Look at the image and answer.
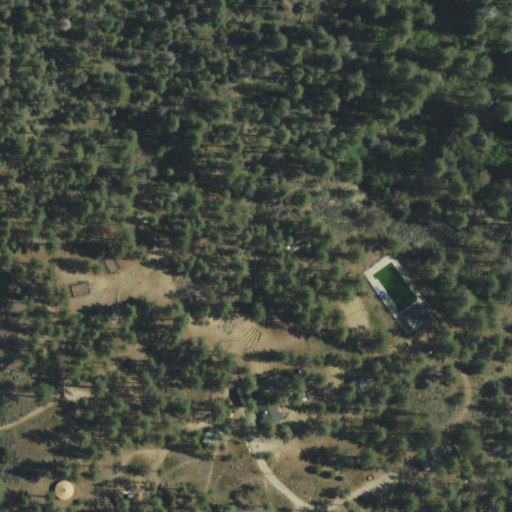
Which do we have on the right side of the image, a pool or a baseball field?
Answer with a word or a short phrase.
pool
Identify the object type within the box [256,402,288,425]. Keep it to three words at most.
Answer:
house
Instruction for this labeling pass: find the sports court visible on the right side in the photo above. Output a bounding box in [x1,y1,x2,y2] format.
[344,295,371,329]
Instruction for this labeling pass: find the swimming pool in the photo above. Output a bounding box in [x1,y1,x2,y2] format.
[364,256,432,334]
